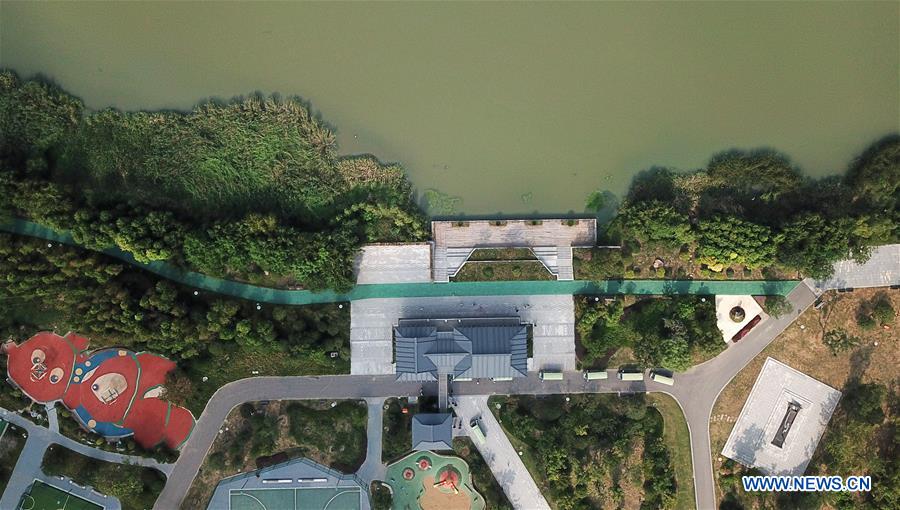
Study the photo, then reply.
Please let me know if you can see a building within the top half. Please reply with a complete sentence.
No, no building appears within the top half.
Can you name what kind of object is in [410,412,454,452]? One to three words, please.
building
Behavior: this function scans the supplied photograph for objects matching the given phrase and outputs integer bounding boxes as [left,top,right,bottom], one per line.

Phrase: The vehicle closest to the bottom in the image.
[469,418,487,446]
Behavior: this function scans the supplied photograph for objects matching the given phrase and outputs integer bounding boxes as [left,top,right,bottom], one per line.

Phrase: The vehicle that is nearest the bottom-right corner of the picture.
[645,372,675,386]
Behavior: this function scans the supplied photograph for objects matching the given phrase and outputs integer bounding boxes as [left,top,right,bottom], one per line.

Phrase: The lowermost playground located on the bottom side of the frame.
[385,450,488,510]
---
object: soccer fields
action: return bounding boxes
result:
[22,478,106,510]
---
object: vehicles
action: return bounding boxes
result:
[536,371,564,381]
[580,370,608,381]
[447,373,474,382]
[645,372,675,386]
[614,371,643,382]
[469,418,487,446]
